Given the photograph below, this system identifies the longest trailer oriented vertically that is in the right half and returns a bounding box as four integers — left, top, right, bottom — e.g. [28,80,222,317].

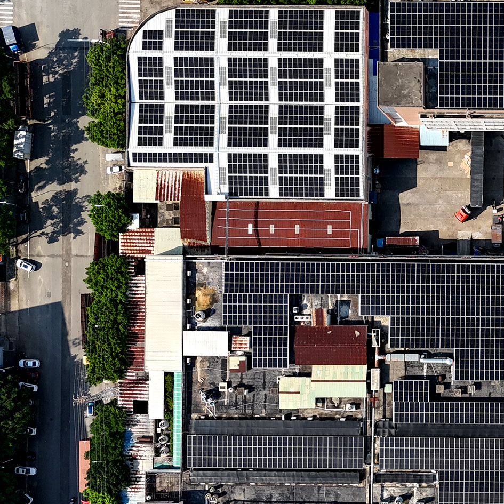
[471,131,484,208]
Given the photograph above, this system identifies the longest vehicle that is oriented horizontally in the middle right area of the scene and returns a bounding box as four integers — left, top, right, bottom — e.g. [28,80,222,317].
[377,236,420,248]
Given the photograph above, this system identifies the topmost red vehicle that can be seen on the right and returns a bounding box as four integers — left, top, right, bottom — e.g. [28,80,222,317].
[452,202,477,225]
